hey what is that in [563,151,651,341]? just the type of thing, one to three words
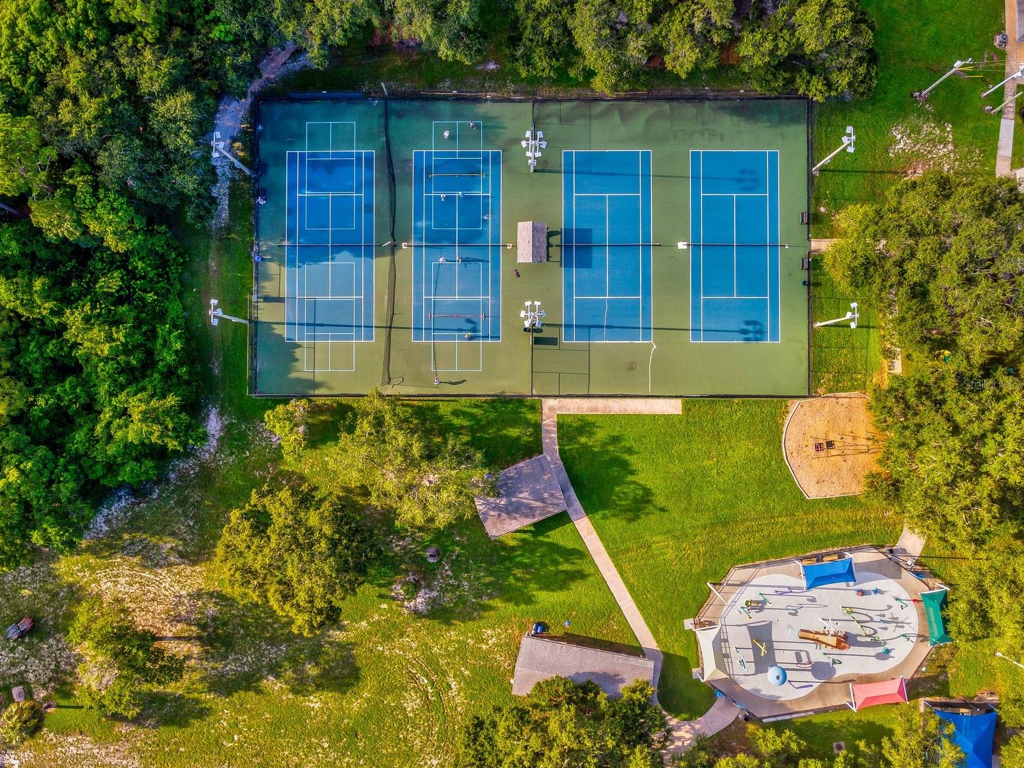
tennis court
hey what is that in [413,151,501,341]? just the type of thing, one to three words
tennis court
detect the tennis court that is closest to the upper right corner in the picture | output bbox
[691,151,779,341]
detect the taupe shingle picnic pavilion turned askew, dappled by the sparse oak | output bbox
[470,454,567,540]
